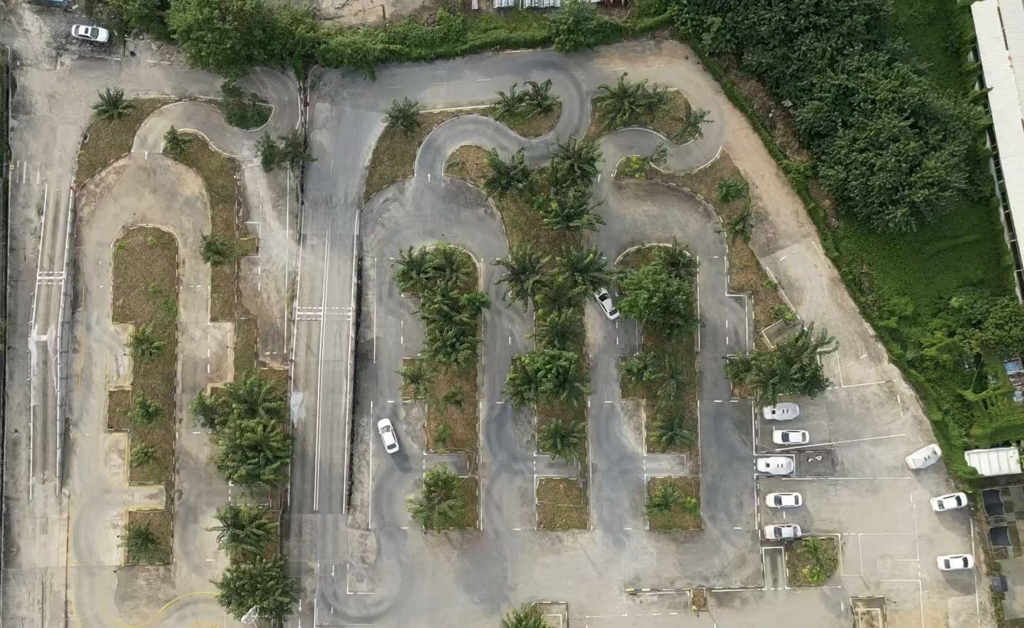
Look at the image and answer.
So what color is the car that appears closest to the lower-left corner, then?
white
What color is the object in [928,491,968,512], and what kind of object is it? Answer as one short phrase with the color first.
white car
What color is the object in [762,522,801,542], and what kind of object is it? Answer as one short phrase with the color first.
white car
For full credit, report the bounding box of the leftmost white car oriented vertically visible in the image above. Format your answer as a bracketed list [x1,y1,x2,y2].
[378,418,399,454]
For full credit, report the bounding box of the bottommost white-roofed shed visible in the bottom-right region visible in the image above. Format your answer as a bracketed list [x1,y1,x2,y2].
[963,446,1023,477]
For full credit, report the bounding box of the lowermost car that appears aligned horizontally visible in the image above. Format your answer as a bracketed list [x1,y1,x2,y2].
[934,553,973,572]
